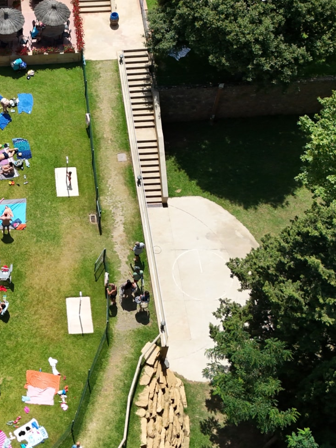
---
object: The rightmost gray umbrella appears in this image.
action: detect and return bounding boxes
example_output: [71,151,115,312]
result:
[34,2,71,30]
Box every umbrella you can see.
[34,2,71,30]
[0,12,25,38]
